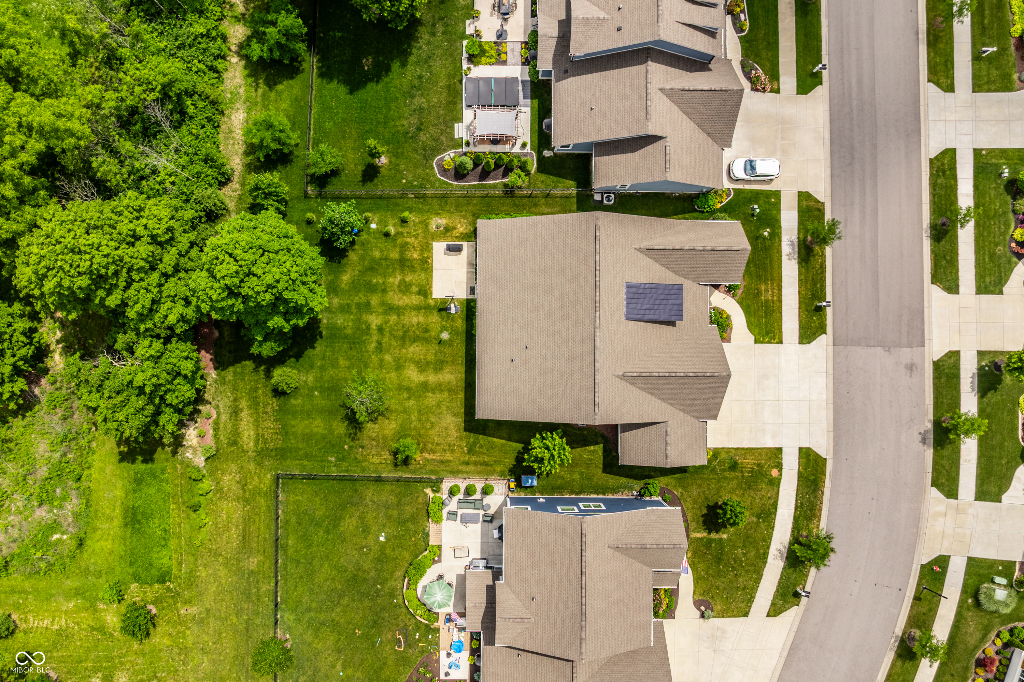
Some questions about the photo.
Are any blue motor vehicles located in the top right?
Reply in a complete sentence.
No, no blue motor vehicle is visible in the top right.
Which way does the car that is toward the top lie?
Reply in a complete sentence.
The car that is toward the top is oriented from side to side.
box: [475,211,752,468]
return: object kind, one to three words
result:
house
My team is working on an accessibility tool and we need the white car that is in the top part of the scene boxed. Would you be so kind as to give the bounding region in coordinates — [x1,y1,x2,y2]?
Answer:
[727,155,781,182]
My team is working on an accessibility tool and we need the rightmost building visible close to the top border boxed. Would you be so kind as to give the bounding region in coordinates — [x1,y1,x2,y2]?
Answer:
[536,0,744,193]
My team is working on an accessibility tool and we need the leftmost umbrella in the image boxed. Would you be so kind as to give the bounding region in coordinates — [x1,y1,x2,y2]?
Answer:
[423,580,454,610]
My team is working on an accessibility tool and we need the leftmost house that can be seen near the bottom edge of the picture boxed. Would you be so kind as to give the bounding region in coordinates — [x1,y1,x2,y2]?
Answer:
[465,496,688,682]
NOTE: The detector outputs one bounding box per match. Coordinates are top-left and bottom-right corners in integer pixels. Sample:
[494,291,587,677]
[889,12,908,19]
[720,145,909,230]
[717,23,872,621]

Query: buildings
[1005,646,1024,682]
[465,496,688,682]
[475,211,752,468]
[536,0,744,193]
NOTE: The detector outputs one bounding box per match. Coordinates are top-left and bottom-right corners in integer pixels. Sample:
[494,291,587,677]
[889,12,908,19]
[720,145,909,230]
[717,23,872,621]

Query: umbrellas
[496,18,507,39]
[423,580,454,610]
